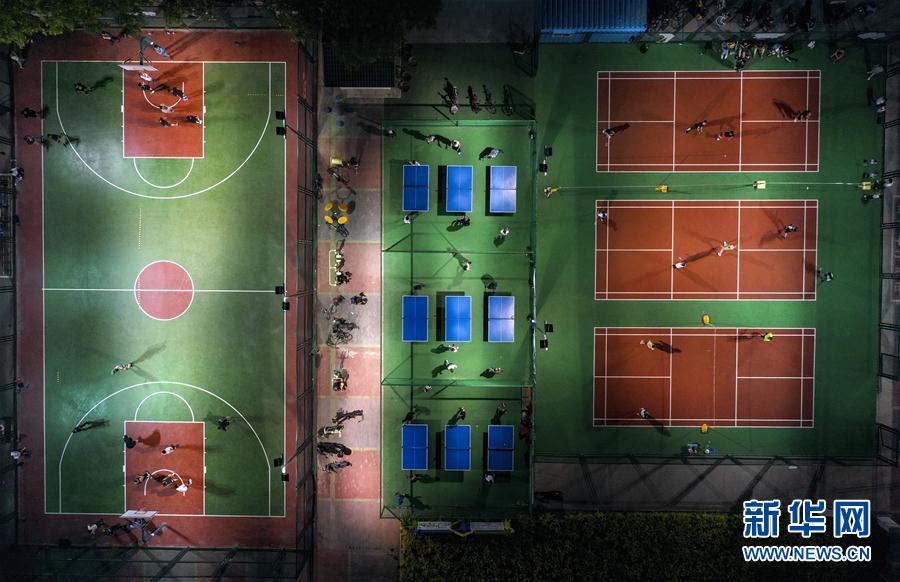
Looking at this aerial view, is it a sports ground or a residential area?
sports ground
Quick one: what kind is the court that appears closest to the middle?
tennis court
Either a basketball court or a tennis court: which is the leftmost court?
basketball court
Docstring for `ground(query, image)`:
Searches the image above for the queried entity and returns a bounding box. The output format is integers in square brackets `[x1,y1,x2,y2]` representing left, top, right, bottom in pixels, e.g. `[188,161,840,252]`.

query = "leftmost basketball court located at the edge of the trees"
[19,31,314,546]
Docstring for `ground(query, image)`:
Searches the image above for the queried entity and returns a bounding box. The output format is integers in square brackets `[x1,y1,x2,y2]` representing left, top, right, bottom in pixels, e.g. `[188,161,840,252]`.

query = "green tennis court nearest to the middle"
[381,121,534,517]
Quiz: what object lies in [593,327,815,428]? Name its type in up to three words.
sports court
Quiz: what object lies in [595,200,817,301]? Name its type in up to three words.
sports court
